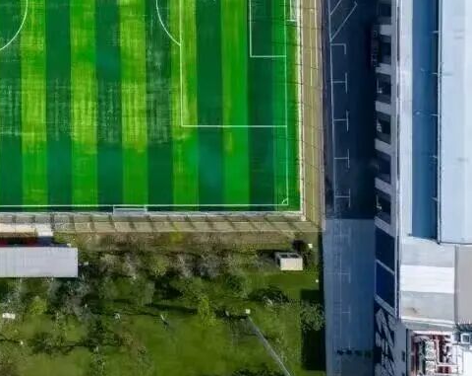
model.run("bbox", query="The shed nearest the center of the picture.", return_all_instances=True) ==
[272,248,303,269]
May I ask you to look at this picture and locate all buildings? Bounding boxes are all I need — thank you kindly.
[272,248,303,269]
[372,0,472,323]
[0,241,78,277]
